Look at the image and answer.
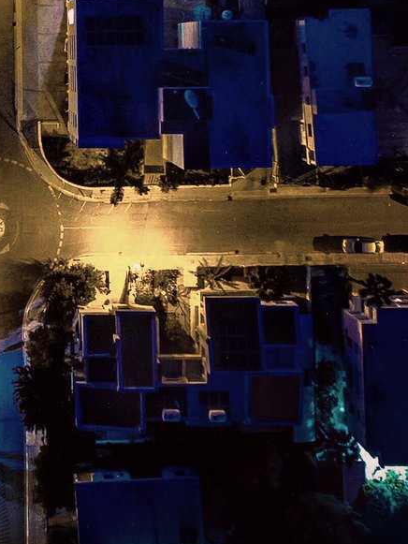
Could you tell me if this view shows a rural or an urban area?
urban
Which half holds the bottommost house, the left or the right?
left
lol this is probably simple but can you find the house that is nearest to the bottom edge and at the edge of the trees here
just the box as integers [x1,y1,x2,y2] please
[71,455,201,544]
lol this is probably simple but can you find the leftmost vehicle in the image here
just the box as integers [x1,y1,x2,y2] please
[341,237,384,256]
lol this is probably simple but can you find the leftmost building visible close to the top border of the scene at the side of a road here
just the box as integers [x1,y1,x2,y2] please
[70,0,273,169]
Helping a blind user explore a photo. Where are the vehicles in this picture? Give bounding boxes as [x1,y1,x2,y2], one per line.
[385,236,408,254]
[341,237,384,256]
